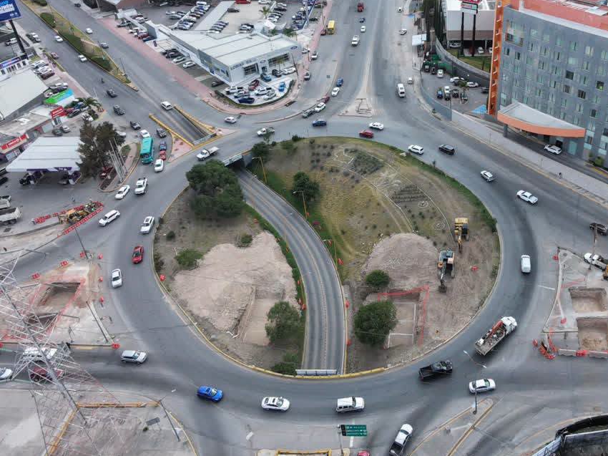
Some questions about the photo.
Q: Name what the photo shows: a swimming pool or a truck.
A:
truck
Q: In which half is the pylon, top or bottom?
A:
bottom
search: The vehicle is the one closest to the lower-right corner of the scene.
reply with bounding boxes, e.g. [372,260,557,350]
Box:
[468,379,496,393]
